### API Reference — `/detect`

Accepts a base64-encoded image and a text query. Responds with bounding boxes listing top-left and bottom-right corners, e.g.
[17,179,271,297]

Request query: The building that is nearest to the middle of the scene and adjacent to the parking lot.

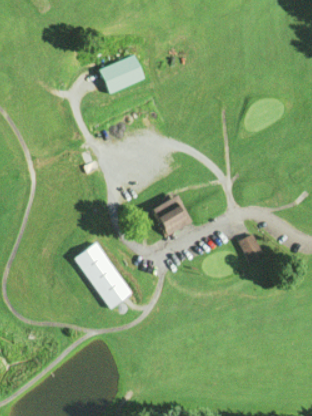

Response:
[154,194,192,235]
